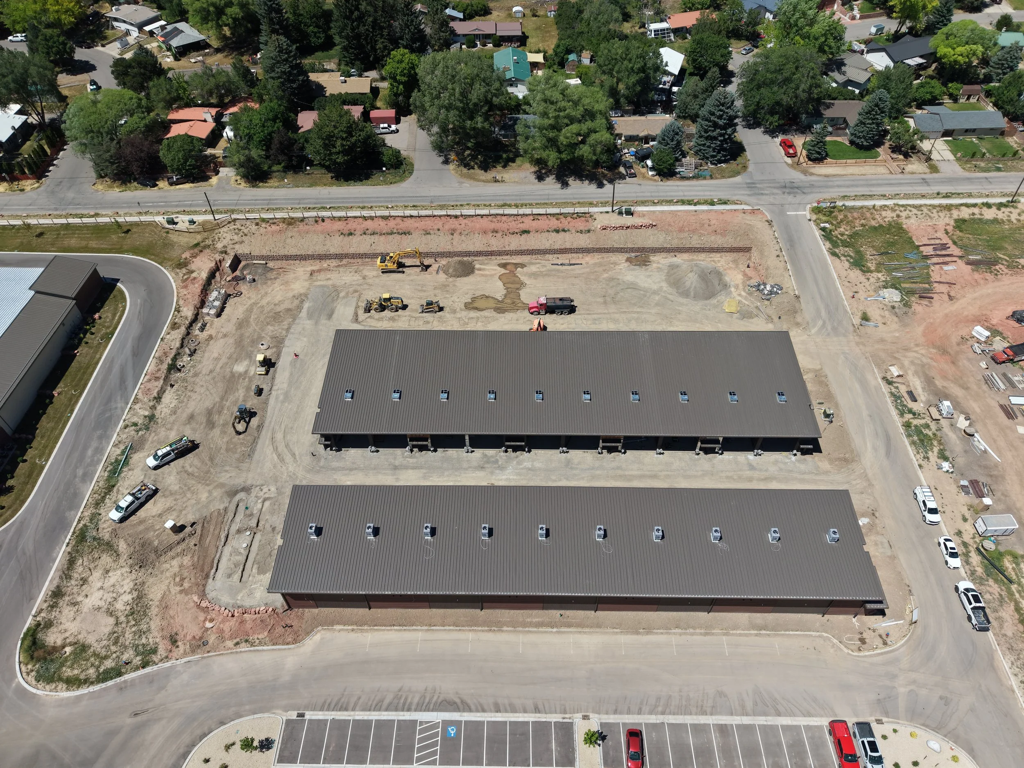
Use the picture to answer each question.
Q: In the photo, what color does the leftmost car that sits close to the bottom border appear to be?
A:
red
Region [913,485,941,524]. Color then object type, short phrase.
white truck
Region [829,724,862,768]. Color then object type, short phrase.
red truck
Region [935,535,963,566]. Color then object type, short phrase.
white car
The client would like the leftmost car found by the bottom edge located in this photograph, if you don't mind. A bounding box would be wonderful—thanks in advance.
[626,726,649,768]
